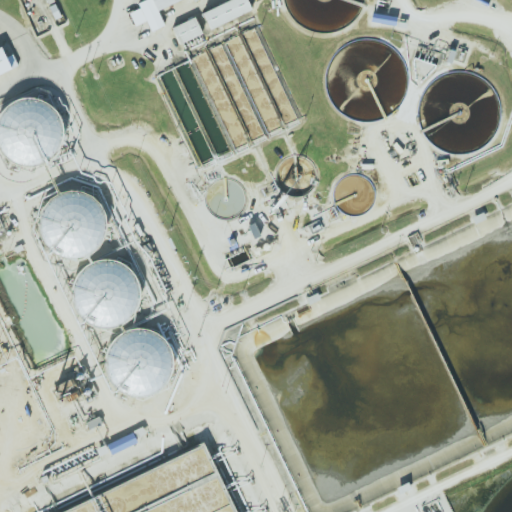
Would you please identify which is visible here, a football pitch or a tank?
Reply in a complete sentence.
This aerial view contains a tank.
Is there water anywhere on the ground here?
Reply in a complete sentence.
Yes, some water is visible.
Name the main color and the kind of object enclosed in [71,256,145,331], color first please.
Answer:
white storage tank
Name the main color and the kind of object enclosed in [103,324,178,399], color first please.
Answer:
white storage tank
